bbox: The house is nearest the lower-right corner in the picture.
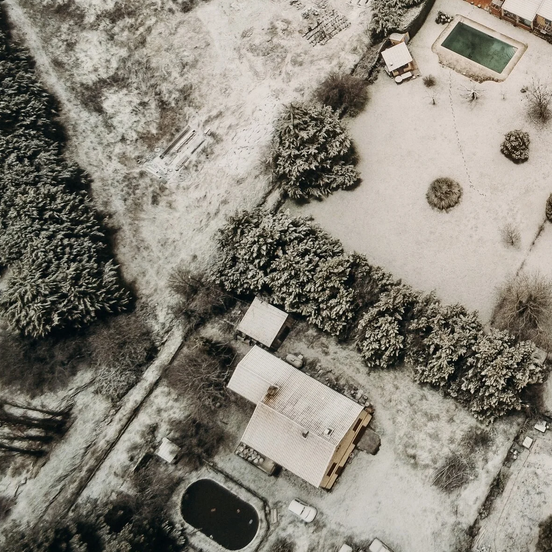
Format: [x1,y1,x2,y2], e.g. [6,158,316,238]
[232,346,371,490]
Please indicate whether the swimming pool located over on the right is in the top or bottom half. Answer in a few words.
top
